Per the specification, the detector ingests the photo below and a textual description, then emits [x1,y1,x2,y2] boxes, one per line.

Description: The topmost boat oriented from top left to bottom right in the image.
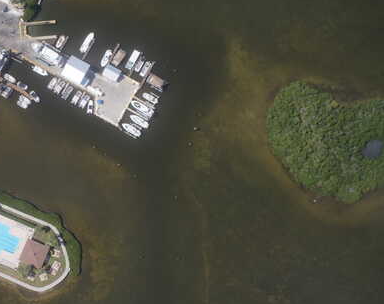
[32,42,66,67]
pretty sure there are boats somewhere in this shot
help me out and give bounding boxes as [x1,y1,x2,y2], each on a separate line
[56,36,65,49]
[32,42,66,67]
[100,49,112,68]
[62,84,73,100]
[125,49,138,69]
[32,65,48,75]
[30,91,40,103]
[54,81,64,95]
[87,99,94,114]
[131,115,150,129]
[135,58,144,72]
[18,96,32,104]
[79,32,91,52]
[78,95,91,110]
[0,57,8,71]
[16,81,28,89]
[122,123,143,138]
[132,101,155,117]
[143,94,159,104]
[3,73,17,82]
[17,102,28,110]
[140,62,151,77]
[71,92,81,106]
[48,77,57,90]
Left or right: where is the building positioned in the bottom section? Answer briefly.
left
